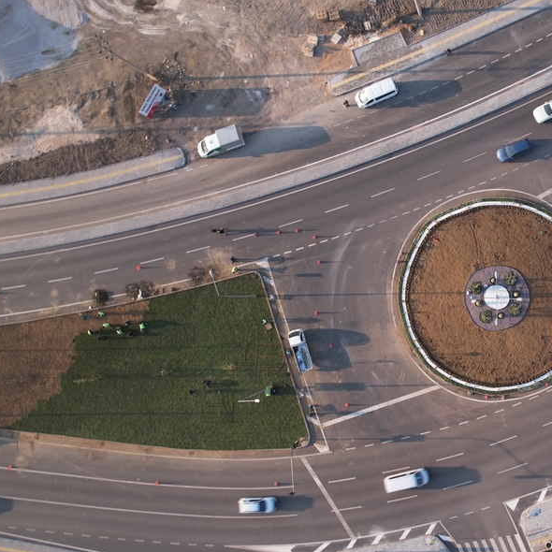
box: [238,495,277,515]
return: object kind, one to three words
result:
vehicle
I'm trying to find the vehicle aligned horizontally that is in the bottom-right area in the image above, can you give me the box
[382,465,428,493]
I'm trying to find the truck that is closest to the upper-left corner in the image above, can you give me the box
[196,120,244,156]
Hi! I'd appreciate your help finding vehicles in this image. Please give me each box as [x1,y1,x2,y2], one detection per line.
[355,77,401,108]
[238,495,277,515]
[382,465,428,493]
[285,329,312,375]
[196,120,244,156]
[532,101,552,124]
[495,137,532,162]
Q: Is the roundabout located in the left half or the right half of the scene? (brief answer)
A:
right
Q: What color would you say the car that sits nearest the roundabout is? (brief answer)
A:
blue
